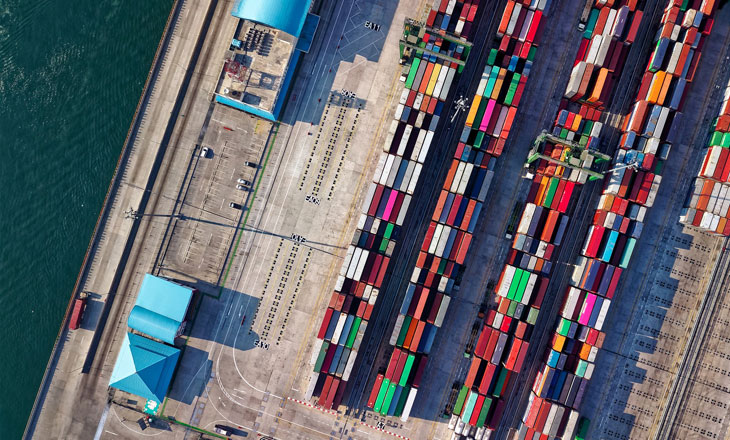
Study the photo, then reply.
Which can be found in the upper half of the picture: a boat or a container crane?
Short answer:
container crane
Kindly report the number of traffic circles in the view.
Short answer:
0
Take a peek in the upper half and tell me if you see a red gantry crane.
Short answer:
No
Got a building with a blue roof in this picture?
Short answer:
Yes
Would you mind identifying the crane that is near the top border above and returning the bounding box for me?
[395,16,478,85]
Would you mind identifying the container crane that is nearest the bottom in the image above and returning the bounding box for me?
[518,130,617,187]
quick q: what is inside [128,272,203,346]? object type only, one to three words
building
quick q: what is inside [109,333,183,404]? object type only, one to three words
building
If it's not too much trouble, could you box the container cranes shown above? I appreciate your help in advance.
[395,16,478,85]
[518,130,617,187]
